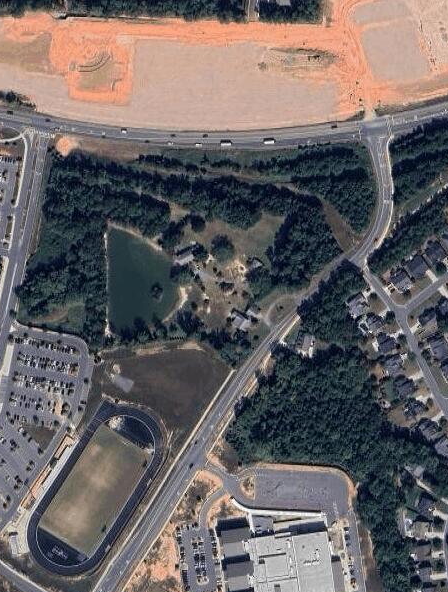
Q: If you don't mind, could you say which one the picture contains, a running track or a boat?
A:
running track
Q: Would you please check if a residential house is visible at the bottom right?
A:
Yes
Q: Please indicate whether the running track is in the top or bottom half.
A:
bottom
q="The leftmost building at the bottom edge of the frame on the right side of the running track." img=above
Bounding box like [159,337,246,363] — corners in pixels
[221,518,345,592]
